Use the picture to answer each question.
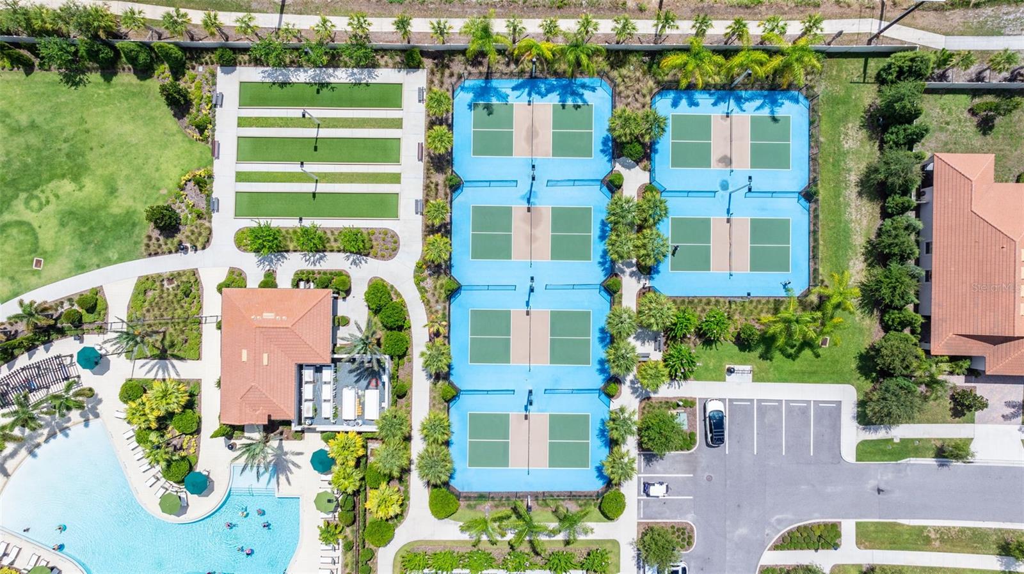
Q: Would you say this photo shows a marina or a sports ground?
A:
sports ground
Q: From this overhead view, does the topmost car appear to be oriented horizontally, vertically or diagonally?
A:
vertically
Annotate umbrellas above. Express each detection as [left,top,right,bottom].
[186,471,209,494]
[78,346,104,369]
[311,449,334,472]
[315,490,338,513]
[160,492,183,514]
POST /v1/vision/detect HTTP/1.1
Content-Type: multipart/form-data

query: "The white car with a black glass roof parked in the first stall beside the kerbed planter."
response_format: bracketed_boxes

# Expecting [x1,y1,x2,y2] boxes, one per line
[703,399,727,446]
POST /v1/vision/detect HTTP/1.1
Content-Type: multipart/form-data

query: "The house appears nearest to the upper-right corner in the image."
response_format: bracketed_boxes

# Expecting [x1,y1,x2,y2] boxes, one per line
[910,152,1024,375]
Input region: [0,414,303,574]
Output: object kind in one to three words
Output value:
swimming pool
